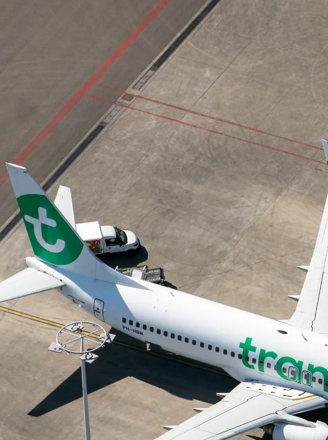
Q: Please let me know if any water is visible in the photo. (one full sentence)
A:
No, the picture contains no water.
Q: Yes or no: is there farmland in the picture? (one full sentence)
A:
No, there's no farmland in this view.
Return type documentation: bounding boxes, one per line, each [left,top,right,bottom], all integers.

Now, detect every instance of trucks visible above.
[76,221,143,263]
